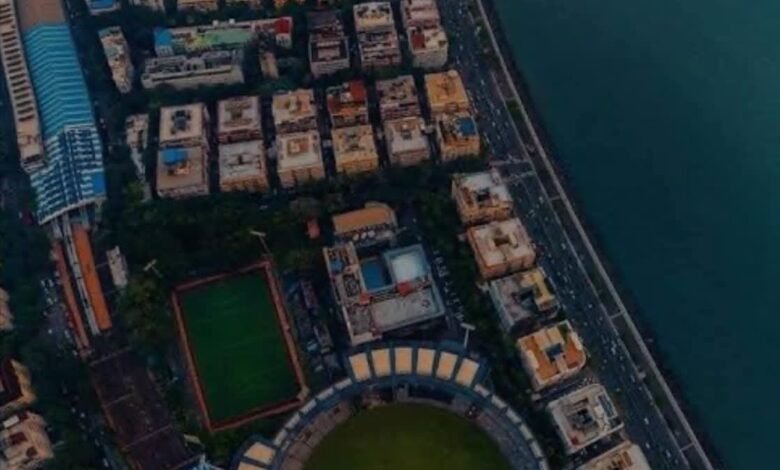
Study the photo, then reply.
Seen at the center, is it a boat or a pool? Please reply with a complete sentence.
You can see a pool at the center.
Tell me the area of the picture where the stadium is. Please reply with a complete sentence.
The stadium sits in the bottom section of the image.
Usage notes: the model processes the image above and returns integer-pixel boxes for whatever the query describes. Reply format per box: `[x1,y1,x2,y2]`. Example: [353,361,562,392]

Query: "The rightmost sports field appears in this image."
[303,401,510,470]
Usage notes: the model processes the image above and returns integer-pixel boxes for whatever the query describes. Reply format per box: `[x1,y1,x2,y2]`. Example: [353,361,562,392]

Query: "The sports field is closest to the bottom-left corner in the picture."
[173,261,307,432]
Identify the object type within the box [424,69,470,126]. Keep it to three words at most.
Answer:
building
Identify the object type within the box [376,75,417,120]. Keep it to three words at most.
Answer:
building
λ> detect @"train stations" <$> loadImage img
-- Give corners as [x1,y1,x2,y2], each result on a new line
[19,0,110,226]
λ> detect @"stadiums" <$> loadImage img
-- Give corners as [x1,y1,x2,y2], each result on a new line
[233,341,561,470]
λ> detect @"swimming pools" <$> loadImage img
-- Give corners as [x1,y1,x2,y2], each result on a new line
[363,262,389,289]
